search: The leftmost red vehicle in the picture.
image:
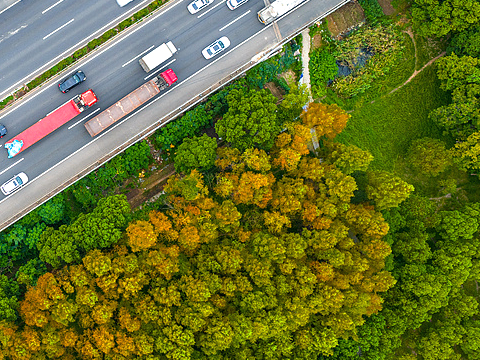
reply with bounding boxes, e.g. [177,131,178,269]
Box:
[2,87,99,158]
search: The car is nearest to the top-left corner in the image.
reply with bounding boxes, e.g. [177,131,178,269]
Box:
[58,70,86,93]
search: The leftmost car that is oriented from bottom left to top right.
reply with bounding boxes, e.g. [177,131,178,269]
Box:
[0,170,29,194]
